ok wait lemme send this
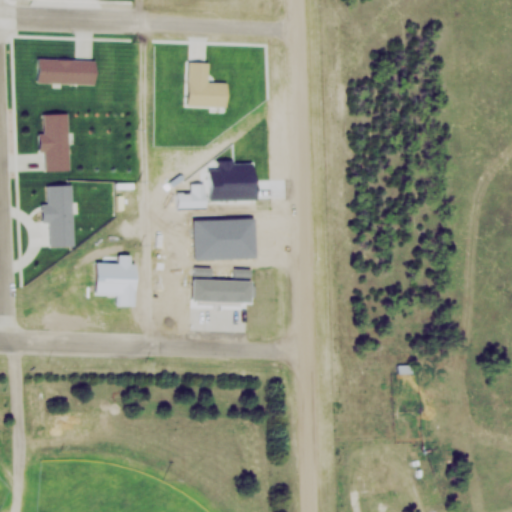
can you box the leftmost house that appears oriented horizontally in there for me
[37,60,96,89]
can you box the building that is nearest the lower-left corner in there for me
[94,255,138,308]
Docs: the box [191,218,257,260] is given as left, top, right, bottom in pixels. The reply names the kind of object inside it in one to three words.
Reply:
building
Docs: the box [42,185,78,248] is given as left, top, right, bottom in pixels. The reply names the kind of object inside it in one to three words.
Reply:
house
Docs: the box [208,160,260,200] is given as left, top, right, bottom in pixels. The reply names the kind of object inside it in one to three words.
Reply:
house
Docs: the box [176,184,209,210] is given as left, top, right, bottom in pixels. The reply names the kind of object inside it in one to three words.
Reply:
building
